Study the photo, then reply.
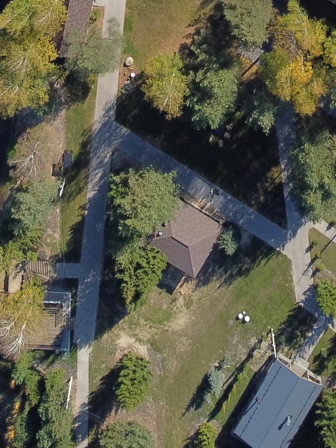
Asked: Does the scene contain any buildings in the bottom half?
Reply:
Yes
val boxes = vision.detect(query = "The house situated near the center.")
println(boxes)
[144,200,223,295]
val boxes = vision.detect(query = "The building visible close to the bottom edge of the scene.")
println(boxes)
[232,336,323,448]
